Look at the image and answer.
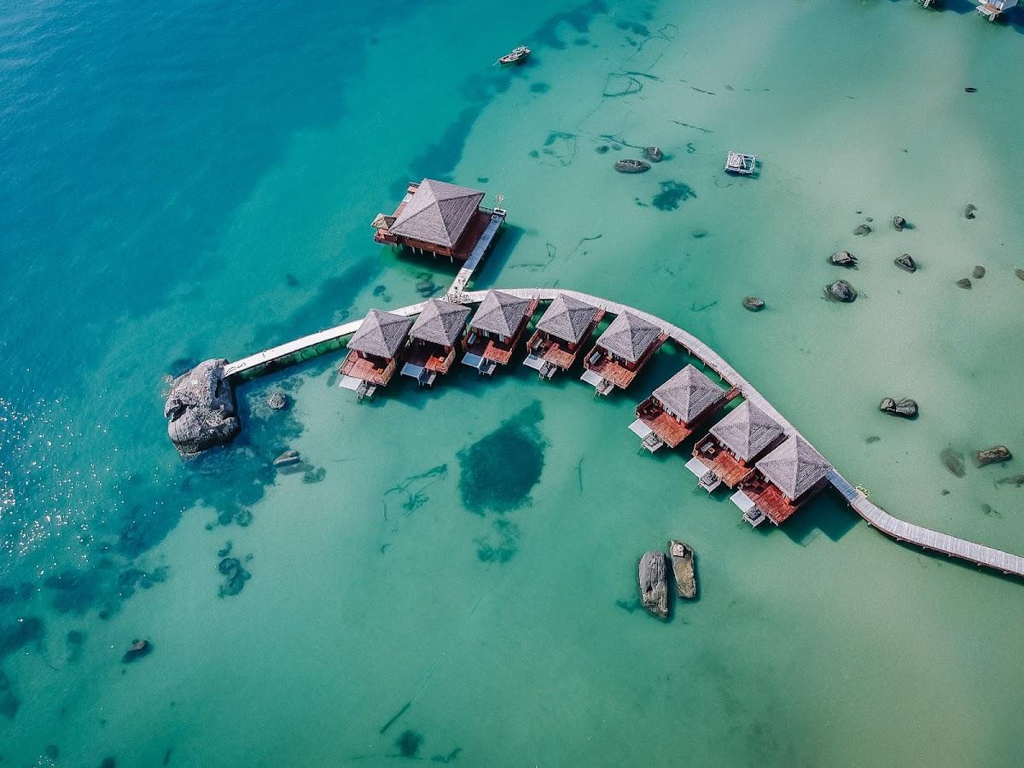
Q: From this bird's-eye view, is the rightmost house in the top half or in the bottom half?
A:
top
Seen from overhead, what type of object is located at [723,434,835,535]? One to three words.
house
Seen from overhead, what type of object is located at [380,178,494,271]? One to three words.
building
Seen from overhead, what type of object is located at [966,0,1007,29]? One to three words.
house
